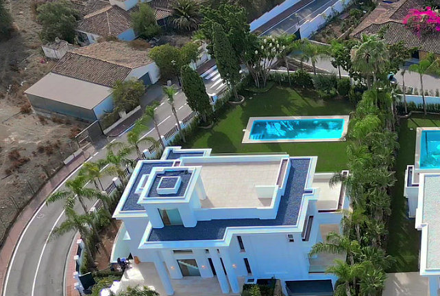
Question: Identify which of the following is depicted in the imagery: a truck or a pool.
pool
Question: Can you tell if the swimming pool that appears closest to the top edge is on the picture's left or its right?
right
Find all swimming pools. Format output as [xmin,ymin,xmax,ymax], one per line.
[414,125,440,167]
[242,114,349,143]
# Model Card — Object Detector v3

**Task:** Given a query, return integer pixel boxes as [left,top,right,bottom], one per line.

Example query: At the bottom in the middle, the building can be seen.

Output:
[107,147,350,296]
